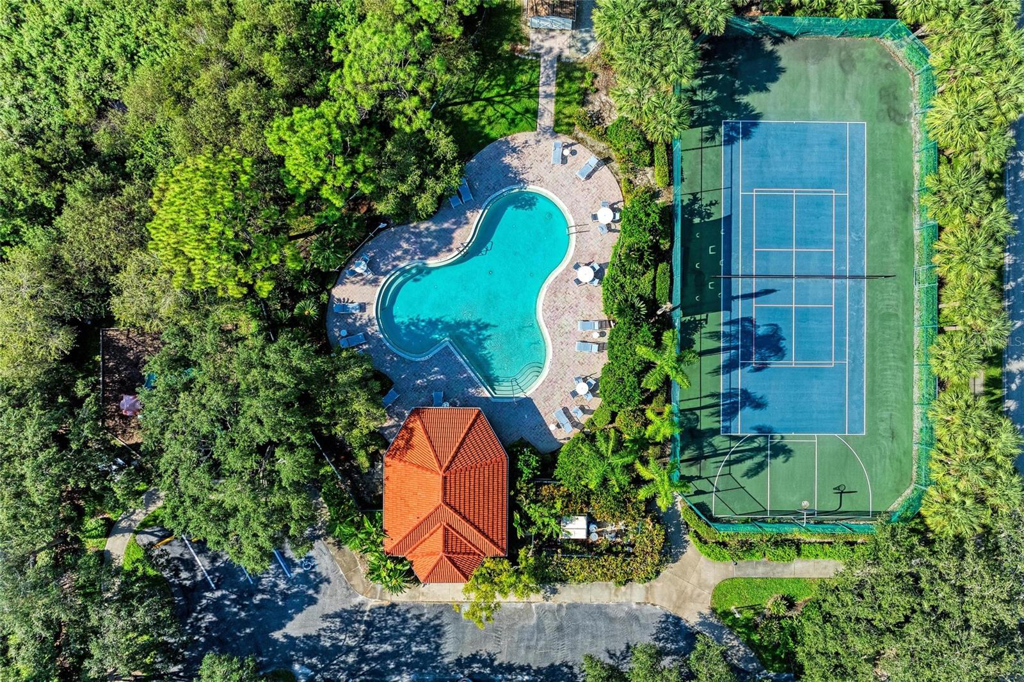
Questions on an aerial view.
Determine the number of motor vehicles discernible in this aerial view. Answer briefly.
0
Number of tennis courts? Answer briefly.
1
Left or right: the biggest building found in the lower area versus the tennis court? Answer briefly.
left of it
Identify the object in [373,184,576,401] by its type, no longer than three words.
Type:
swimming pool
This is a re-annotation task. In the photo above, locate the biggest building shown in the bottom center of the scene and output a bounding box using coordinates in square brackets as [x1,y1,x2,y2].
[382,406,509,586]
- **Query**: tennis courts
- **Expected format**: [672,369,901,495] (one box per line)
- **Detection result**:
[671,38,912,518]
